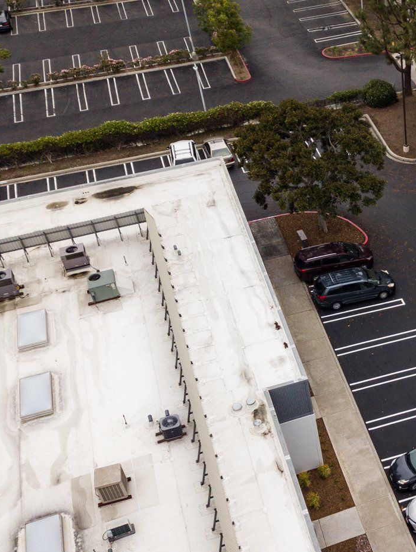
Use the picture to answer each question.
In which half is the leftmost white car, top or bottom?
top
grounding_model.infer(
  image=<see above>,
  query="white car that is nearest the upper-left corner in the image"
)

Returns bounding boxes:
[171,141,202,166]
